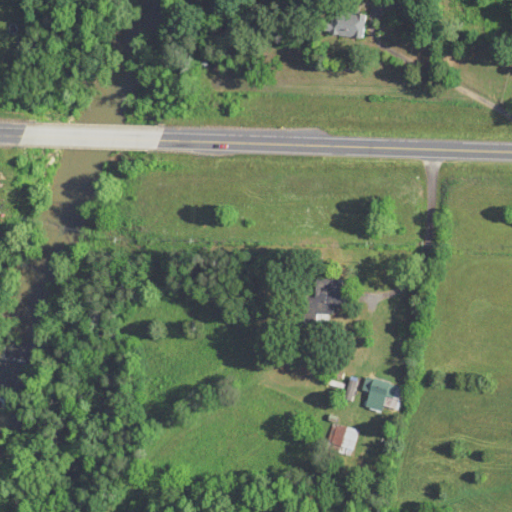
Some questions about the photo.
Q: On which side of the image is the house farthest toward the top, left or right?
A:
right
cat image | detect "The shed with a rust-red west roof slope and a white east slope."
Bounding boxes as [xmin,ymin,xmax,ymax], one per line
[328,425,358,456]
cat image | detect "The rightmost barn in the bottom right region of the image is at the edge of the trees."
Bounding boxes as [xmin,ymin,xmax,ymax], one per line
[363,376,402,414]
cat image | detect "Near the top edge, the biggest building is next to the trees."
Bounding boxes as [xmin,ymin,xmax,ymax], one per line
[326,14,368,40]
